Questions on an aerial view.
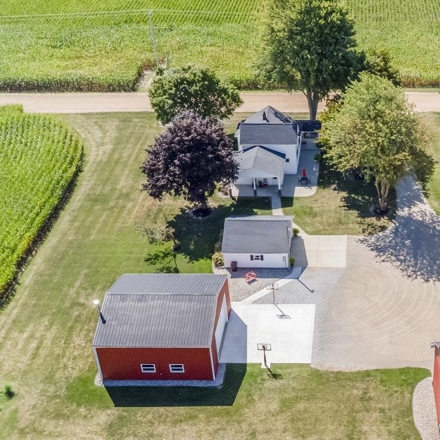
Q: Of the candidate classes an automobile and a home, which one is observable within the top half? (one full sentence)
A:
The feature located within the top half is a home.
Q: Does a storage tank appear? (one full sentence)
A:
No, there isn't any storage tank down there.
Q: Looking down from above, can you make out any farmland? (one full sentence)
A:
Yes, some farmland is visible.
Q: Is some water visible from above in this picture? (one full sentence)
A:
No, the scene doesn't show any water.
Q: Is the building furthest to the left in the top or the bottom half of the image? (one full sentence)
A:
The bottom half of the photo is where the building furthest to the left is.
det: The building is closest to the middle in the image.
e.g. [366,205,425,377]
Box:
[220,216,294,268]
